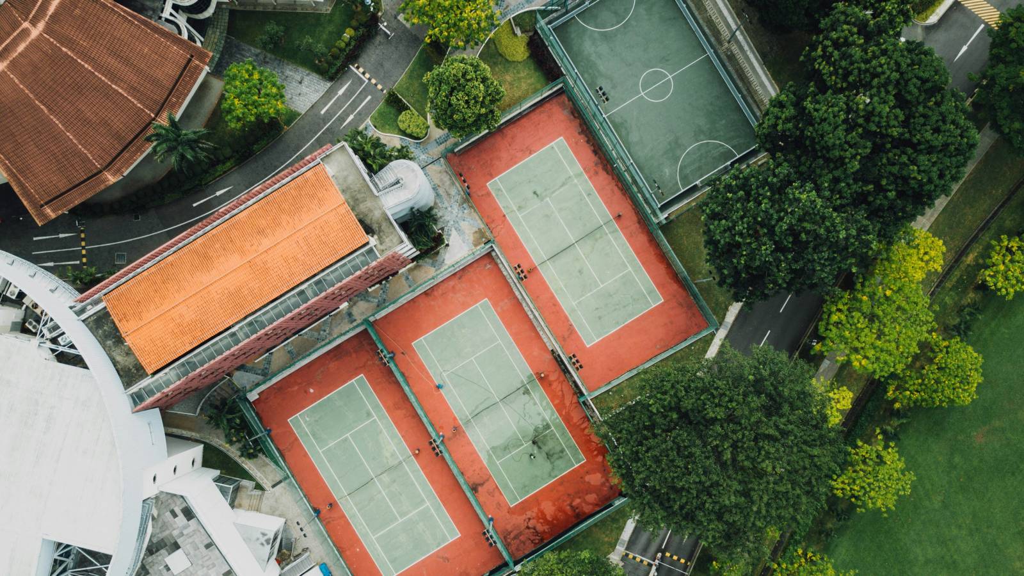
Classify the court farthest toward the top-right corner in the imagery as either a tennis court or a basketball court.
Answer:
tennis court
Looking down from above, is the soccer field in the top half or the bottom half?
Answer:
top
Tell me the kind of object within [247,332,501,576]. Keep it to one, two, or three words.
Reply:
tennis court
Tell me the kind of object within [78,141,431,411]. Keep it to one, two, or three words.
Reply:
building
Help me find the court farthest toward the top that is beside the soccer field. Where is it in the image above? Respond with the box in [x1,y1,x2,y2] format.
[449,90,711,393]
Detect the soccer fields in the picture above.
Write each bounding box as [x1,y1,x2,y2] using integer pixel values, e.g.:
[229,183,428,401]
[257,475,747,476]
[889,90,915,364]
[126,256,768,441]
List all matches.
[555,0,764,202]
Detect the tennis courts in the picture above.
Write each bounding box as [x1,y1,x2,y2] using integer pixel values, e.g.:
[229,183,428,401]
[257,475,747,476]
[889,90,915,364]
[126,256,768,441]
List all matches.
[247,332,501,576]
[449,90,711,393]
[370,254,627,559]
